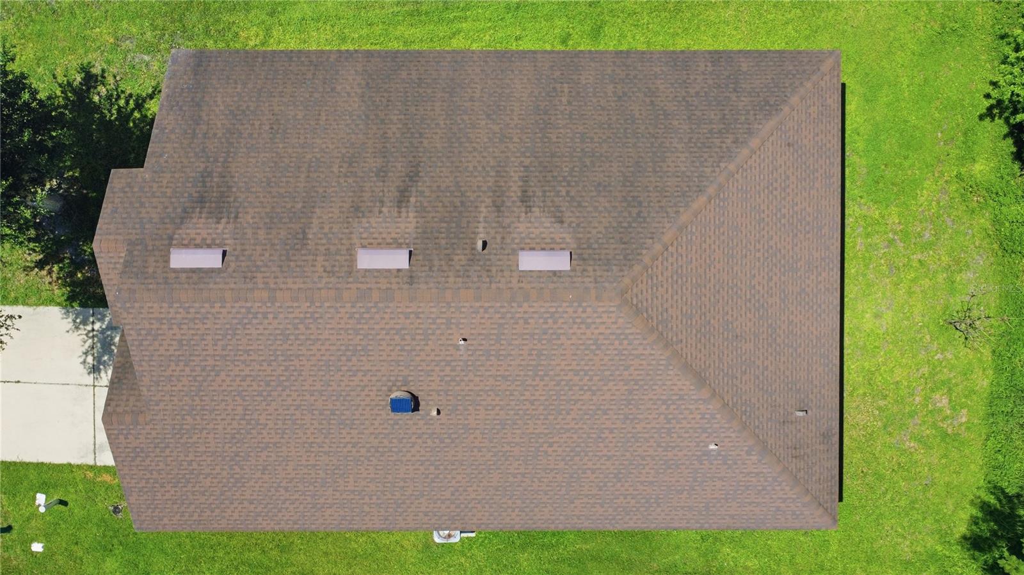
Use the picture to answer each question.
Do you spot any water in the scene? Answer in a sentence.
No, the scene doesn't show any water.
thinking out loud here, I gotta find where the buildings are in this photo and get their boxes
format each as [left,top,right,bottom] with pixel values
[92,48,842,532]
